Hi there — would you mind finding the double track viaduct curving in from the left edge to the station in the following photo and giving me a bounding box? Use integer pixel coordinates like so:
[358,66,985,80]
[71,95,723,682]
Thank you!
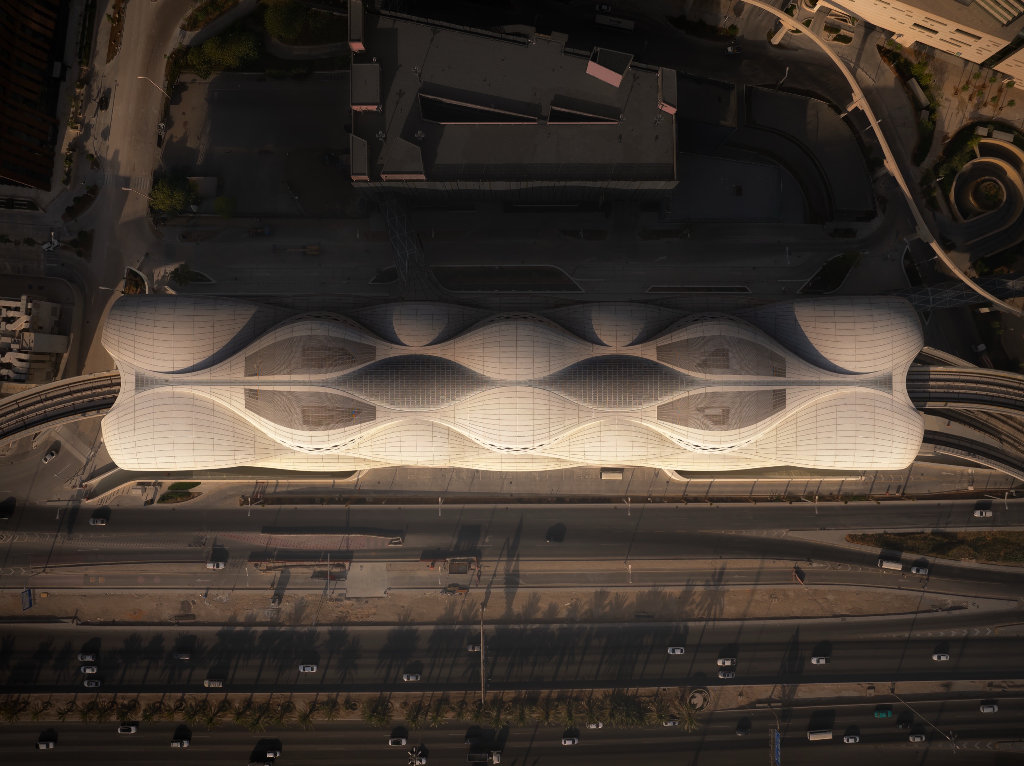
[0,369,123,447]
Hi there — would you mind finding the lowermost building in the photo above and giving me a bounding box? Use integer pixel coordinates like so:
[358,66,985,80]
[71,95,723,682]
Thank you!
[448,561,471,575]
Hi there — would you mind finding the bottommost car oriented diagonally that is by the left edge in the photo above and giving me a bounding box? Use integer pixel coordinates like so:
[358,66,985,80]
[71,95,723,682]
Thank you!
[43,449,57,465]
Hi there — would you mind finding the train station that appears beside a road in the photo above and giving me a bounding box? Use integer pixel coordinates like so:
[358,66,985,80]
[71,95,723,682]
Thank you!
[102,268,924,472]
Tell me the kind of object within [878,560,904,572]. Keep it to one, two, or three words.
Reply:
vehicle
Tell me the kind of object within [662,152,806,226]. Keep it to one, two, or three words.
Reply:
building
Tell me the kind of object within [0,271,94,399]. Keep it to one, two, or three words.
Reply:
building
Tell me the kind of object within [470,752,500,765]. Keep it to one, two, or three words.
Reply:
vehicle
